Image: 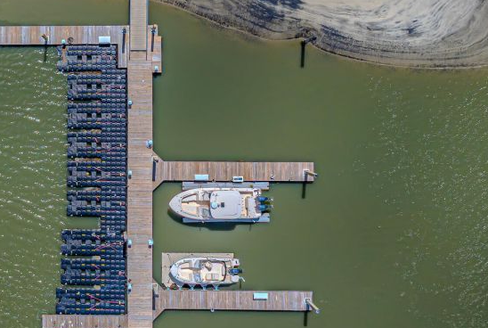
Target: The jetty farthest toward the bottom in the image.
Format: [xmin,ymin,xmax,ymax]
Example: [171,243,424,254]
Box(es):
[42,314,128,328]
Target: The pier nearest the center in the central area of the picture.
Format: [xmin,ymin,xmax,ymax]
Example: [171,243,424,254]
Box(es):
[160,161,315,182]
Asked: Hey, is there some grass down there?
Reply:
No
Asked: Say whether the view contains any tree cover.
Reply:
No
